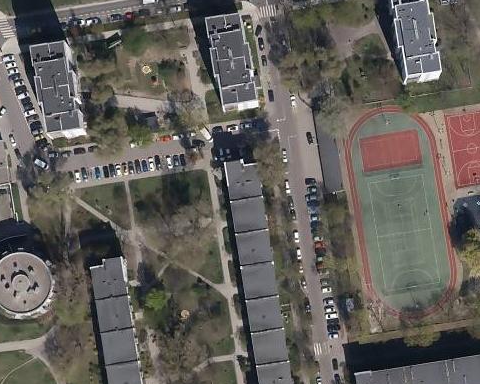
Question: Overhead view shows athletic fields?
Yes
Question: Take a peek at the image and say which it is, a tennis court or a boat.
tennis court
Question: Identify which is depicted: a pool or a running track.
running track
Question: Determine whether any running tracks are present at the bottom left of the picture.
No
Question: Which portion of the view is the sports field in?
right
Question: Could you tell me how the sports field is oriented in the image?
vertically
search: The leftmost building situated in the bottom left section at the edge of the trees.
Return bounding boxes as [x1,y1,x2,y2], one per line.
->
[0,251,54,314]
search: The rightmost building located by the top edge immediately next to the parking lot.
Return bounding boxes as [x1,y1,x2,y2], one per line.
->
[205,13,259,112]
